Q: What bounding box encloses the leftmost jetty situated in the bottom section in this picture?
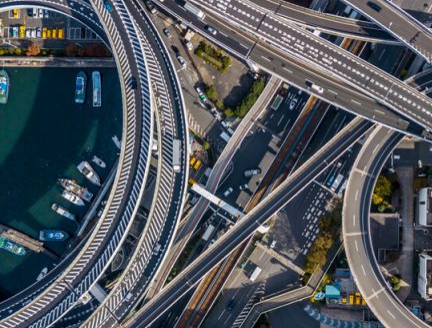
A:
[2,229,45,251]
